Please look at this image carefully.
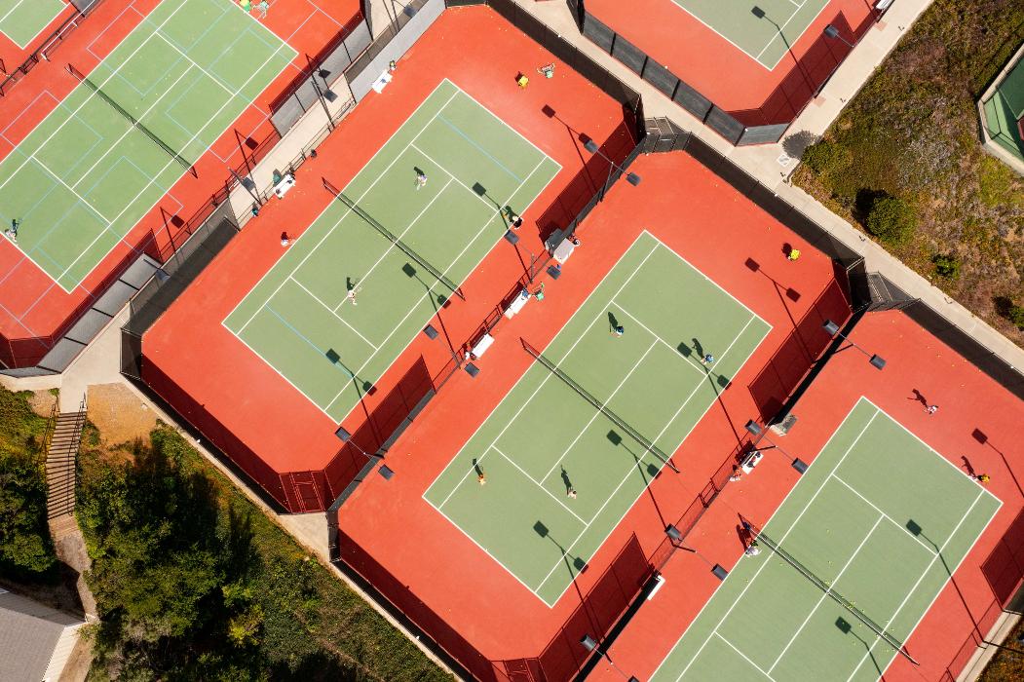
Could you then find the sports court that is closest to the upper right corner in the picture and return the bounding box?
[980,44,1024,172]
